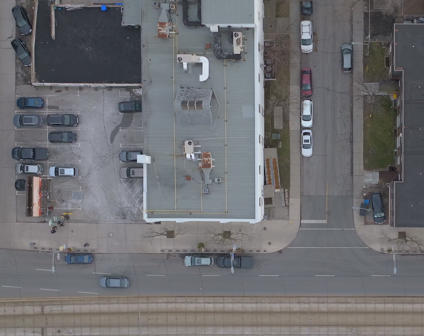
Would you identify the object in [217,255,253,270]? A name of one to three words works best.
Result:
vehicle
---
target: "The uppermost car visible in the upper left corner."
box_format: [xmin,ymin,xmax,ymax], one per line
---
[10,4,32,36]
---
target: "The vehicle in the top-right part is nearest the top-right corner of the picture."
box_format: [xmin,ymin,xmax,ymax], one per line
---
[340,43,355,72]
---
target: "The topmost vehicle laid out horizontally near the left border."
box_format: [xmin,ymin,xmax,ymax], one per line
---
[17,96,45,109]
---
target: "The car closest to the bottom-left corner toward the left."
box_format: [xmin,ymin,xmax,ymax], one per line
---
[65,252,93,266]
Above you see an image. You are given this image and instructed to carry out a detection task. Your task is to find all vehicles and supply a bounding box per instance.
[12,145,49,161]
[120,149,142,163]
[300,129,313,156]
[300,0,313,16]
[65,252,93,266]
[14,113,44,128]
[49,164,78,179]
[119,100,142,113]
[340,43,355,72]
[15,180,26,191]
[10,4,32,36]
[120,165,143,180]
[16,161,44,176]
[299,68,313,96]
[17,96,45,109]
[185,255,214,269]
[48,129,77,144]
[300,20,313,53]
[217,255,253,270]
[46,112,78,127]
[9,37,31,67]
[299,98,313,128]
